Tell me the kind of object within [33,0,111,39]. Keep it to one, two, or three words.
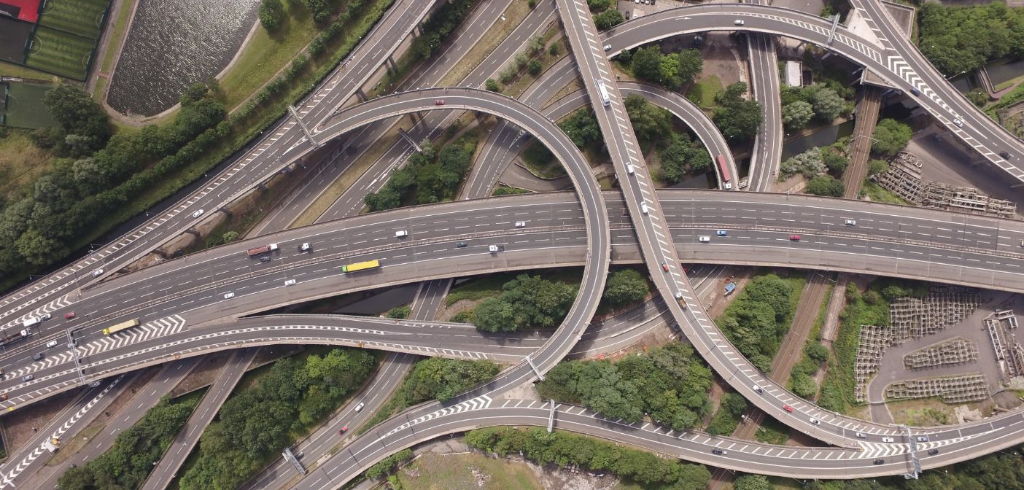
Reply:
soccer field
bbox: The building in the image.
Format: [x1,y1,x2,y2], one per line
[784,61,803,88]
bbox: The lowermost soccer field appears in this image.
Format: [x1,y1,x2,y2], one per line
[0,81,64,126]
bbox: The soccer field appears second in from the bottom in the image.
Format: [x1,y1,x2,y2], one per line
[21,24,96,80]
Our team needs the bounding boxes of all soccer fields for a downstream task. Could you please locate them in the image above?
[0,81,64,126]
[21,24,96,80]
[33,0,111,39]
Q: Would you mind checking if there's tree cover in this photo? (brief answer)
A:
Yes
